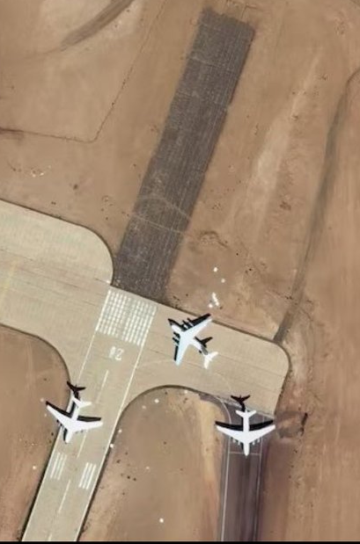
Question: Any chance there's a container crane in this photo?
No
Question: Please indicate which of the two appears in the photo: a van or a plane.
plane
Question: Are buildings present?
No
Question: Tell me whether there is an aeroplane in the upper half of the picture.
No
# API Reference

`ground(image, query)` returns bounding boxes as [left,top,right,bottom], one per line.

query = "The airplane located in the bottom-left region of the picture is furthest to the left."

[45,399,102,443]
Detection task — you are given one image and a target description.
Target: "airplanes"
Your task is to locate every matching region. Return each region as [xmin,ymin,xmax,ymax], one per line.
[171,321,219,367]
[45,399,102,443]
[217,410,275,456]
